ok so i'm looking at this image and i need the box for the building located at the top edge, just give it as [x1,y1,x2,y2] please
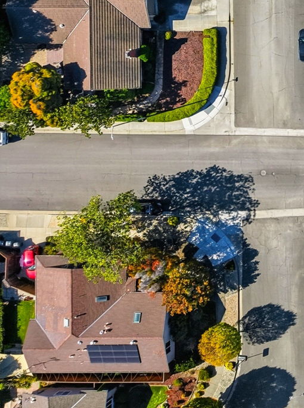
[1,0,157,92]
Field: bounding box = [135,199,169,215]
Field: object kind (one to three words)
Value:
car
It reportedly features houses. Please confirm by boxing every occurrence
[17,254,175,383]
[1,0,157,92]
[21,384,117,408]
